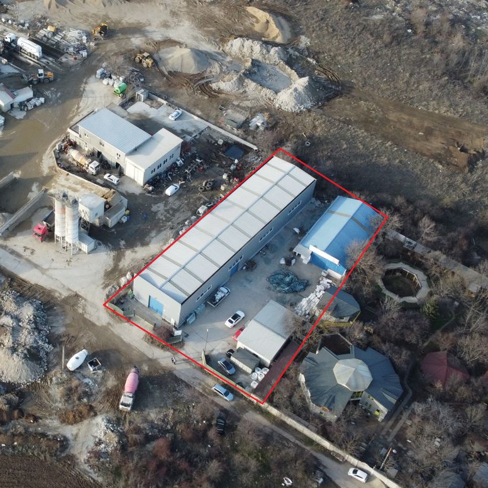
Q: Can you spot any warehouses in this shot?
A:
Yes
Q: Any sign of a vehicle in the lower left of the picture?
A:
Yes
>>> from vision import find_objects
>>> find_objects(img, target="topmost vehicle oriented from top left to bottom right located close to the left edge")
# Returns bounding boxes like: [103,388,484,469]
[7,31,41,59]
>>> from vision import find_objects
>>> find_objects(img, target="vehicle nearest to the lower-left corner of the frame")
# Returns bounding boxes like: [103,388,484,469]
[118,365,140,411]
